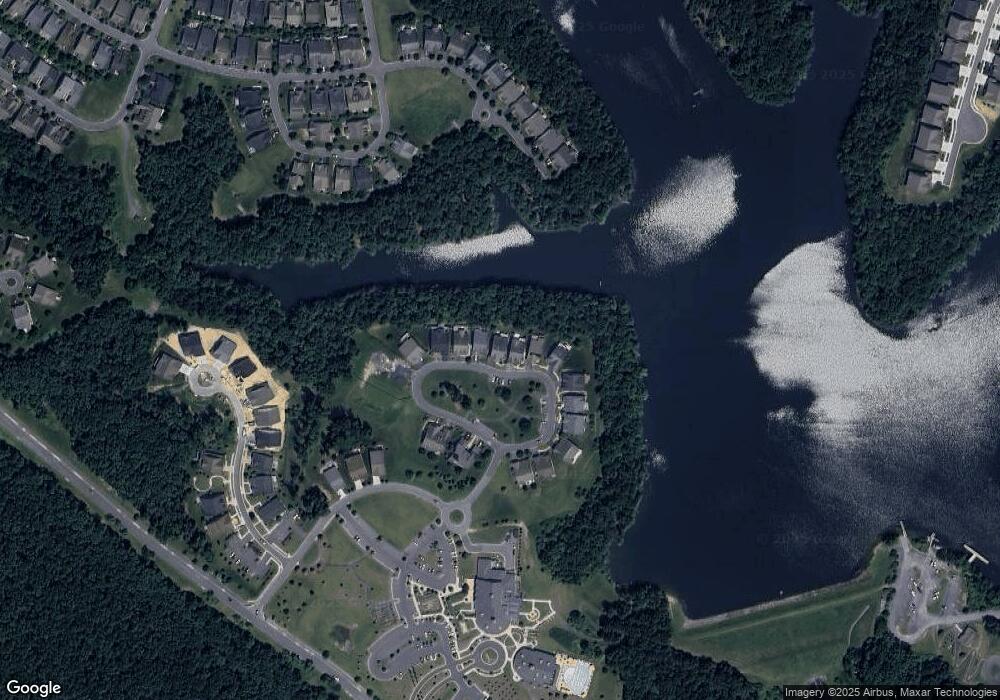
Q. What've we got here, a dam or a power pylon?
dam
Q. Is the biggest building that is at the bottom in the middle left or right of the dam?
left of it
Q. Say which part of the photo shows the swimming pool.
bottom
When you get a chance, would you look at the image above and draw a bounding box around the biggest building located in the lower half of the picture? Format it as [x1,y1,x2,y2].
[475,556,521,636]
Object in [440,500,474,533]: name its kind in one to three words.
roundabout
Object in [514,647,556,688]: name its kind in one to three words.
building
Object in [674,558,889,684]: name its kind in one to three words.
dam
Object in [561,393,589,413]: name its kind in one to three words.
house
